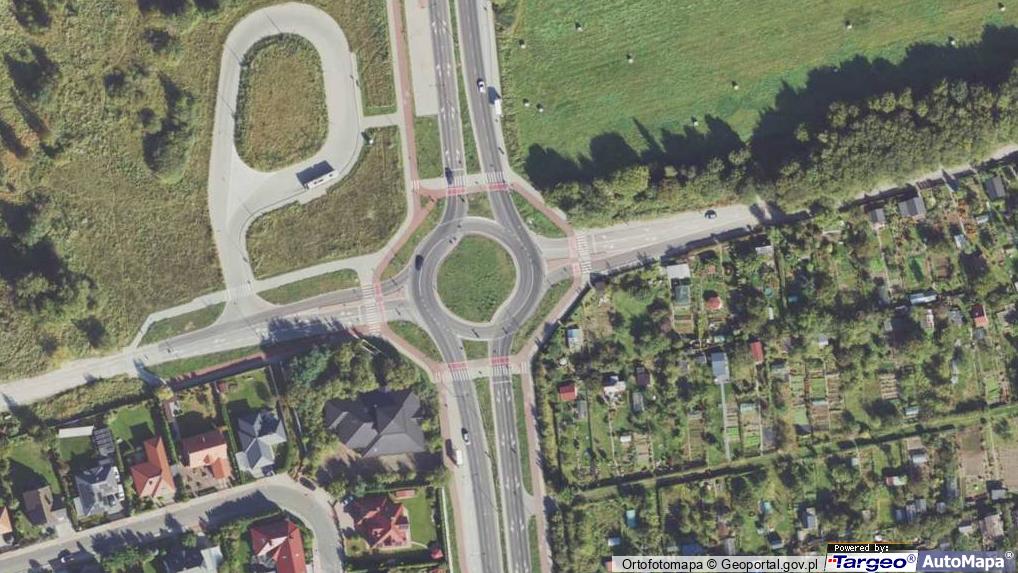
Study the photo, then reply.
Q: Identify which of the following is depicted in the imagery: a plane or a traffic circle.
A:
traffic circle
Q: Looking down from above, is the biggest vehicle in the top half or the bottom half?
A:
top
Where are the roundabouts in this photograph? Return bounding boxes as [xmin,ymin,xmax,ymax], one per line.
[410,216,546,341]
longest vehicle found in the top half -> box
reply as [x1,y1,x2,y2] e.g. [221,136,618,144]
[306,169,339,189]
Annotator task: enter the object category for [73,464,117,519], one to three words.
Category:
house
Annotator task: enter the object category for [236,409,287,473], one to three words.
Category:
house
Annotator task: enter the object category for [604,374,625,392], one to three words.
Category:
building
